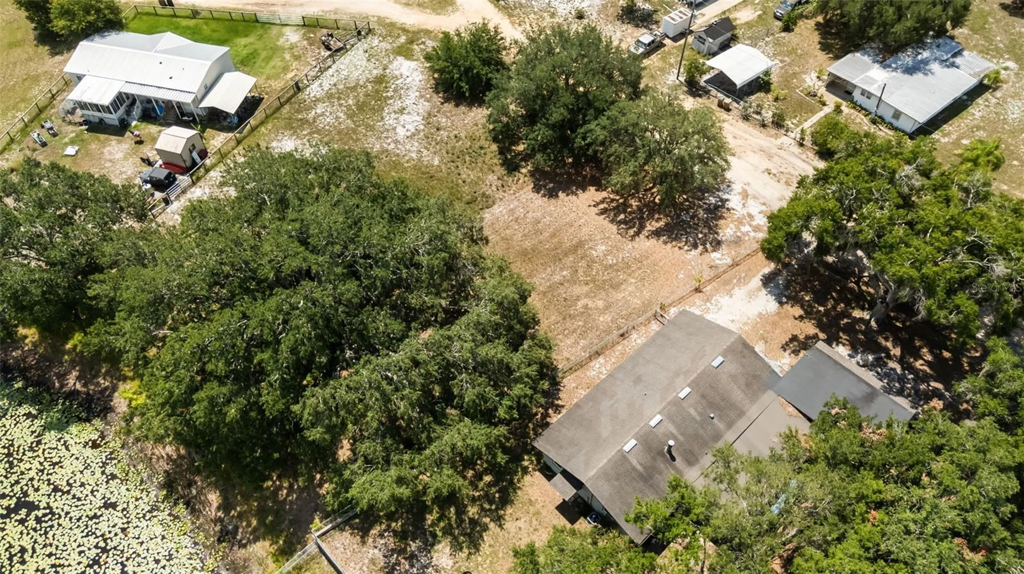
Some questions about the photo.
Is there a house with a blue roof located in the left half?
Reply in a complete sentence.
No, no house with a blue roof can be made out in the left half.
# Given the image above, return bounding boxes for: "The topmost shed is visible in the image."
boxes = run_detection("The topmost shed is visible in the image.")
[692,16,735,55]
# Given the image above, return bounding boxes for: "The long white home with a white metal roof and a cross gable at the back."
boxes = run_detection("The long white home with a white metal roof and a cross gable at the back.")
[63,29,234,124]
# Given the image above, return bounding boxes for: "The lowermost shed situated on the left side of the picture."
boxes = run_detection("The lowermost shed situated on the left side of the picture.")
[154,127,205,170]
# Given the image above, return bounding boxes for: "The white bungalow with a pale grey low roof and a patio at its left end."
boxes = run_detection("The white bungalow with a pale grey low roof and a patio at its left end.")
[821,35,994,136]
